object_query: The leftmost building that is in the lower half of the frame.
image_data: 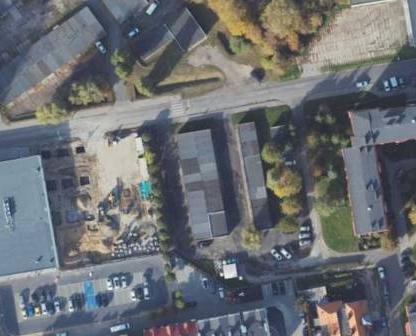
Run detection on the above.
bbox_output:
[0,155,60,278]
